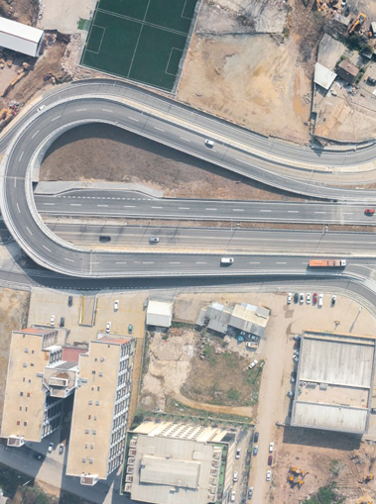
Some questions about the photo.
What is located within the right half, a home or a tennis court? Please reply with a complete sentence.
Looking within the right half, you will find a home.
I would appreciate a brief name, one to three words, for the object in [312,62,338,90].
shed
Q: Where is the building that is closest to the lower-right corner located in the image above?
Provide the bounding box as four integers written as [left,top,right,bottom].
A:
[290,330,376,434]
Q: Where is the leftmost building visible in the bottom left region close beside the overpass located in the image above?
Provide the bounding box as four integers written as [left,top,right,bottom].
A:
[0,327,77,448]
